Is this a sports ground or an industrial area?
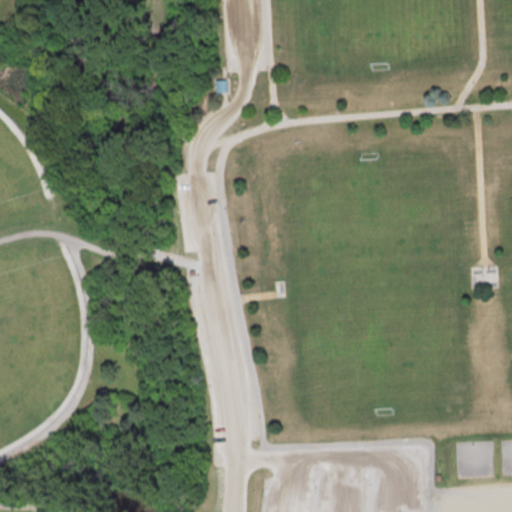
sports ground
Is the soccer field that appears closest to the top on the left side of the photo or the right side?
right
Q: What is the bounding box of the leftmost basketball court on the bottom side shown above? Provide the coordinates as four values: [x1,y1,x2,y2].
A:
[456,442,494,479]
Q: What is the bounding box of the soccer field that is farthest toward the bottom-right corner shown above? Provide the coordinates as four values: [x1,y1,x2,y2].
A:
[282,151,474,428]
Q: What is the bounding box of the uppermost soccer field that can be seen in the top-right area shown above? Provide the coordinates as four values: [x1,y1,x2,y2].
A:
[270,0,474,86]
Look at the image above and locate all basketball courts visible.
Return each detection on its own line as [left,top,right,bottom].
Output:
[502,441,512,476]
[456,442,494,479]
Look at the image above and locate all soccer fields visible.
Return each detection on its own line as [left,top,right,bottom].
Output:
[270,0,474,86]
[282,151,474,428]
